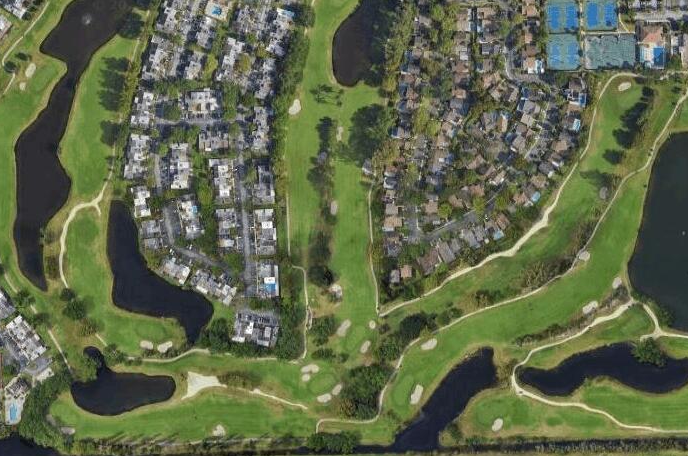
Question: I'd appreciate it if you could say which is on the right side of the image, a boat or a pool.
pool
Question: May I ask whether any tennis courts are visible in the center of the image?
No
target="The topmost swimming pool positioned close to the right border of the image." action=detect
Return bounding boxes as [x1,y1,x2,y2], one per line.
[640,44,666,68]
